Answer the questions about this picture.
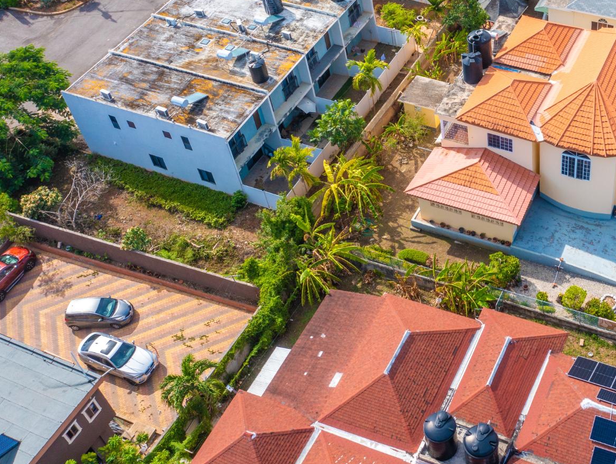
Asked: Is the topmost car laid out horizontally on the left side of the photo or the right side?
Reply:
left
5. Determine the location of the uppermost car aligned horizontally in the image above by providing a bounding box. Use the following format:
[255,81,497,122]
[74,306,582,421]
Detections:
[56,291,136,329]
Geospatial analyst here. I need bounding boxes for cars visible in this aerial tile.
[73,325,159,384]
[56,291,136,329]
[0,238,40,297]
